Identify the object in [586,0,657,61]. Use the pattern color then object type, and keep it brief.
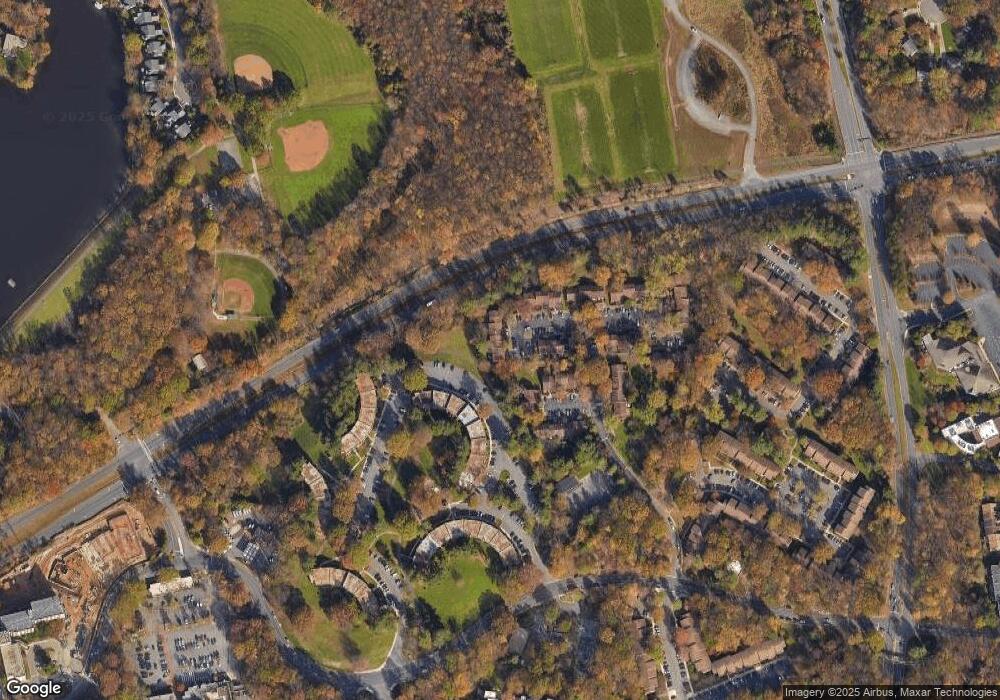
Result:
green sports field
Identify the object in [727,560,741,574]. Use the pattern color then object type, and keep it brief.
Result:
white gazebo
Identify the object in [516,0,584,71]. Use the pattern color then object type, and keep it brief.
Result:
green sports field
